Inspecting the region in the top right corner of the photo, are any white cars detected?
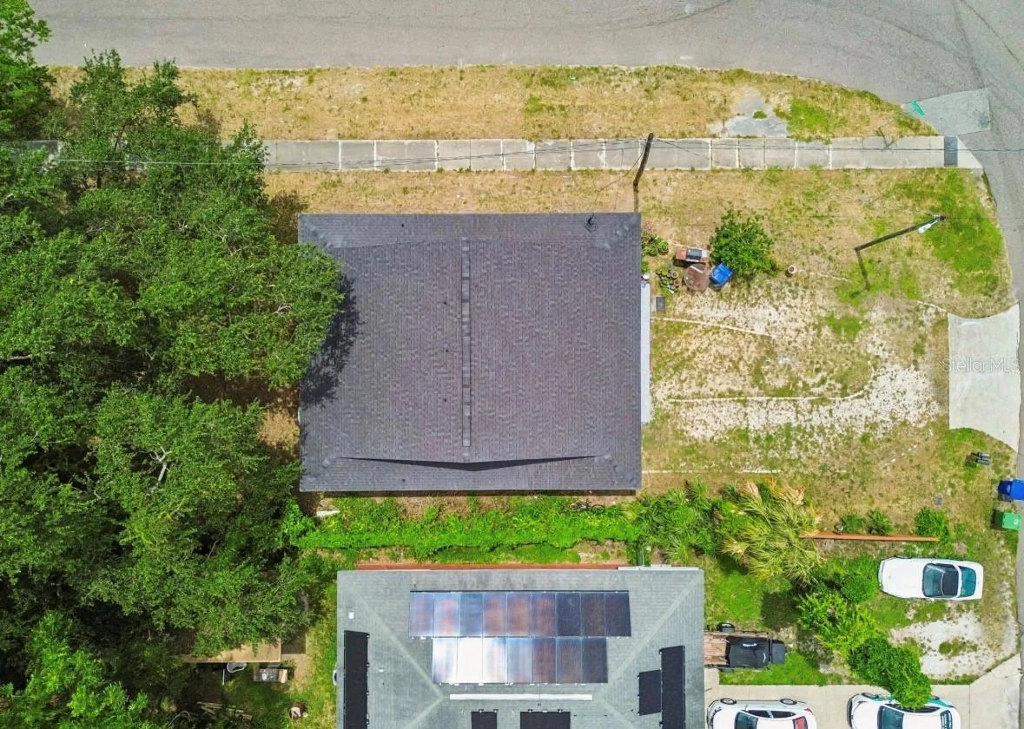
No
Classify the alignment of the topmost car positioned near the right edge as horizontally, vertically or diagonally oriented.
horizontally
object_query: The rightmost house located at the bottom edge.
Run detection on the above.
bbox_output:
[336,560,705,729]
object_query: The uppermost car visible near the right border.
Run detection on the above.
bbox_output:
[878,552,982,603]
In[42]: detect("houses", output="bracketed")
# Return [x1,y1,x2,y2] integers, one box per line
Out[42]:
[336,560,705,729]
[297,212,643,492]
